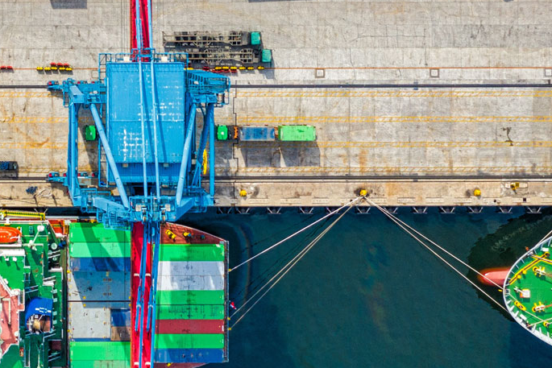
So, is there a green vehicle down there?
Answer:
Yes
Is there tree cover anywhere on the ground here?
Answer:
No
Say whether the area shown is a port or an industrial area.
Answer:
port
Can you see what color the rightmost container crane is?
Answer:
blue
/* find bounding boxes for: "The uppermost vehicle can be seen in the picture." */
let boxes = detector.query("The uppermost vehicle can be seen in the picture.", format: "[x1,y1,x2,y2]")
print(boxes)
[166,31,264,48]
